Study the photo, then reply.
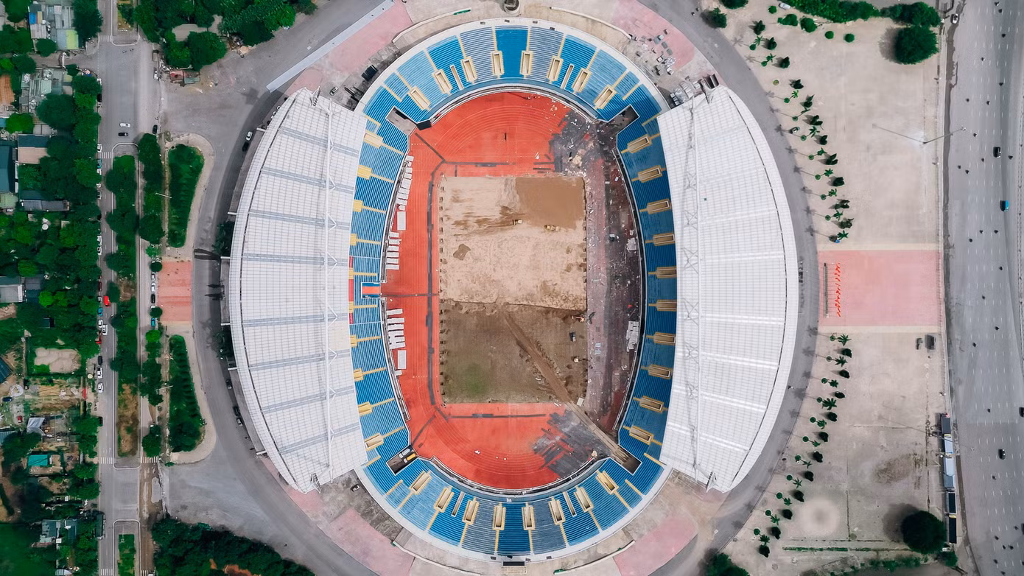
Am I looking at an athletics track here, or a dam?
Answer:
athletics track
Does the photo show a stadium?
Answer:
Yes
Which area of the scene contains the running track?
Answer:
center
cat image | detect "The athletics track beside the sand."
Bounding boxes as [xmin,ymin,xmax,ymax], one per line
[386,91,640,488]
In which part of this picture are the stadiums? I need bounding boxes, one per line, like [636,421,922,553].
[221,17,798,563]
